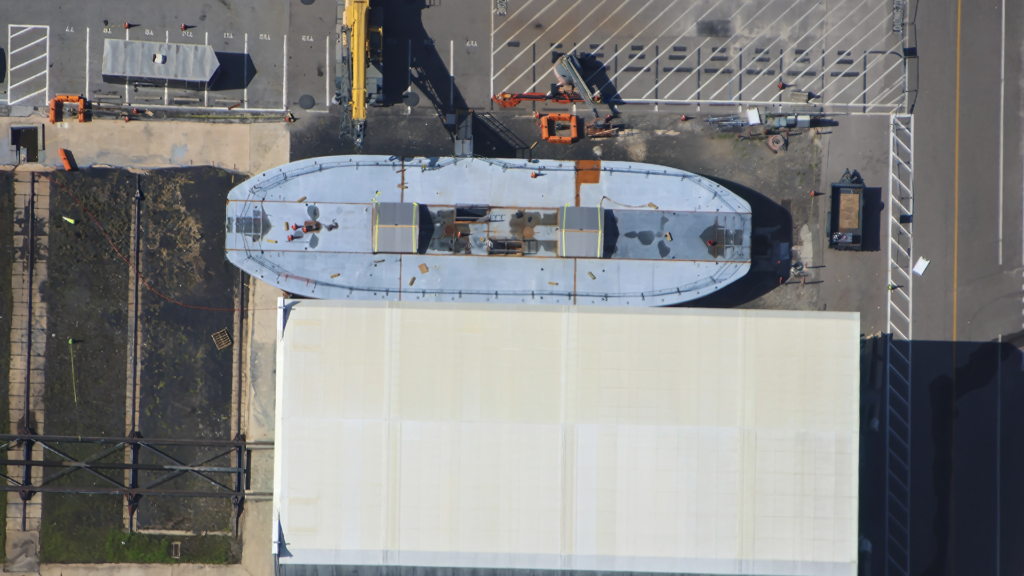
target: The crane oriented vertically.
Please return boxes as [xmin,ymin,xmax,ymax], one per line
[330,0,386,152]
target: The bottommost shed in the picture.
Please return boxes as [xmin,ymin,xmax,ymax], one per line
[272,297,860,576]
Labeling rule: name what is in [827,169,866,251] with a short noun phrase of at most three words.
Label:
trailer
